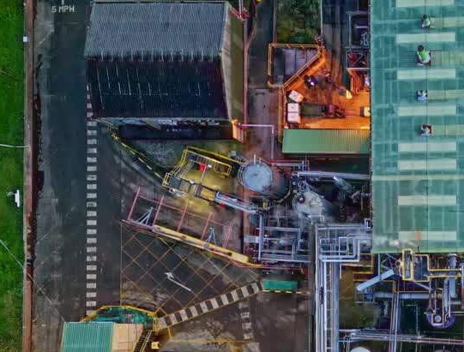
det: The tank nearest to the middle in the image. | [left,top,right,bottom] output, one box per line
[240,163,295,202]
